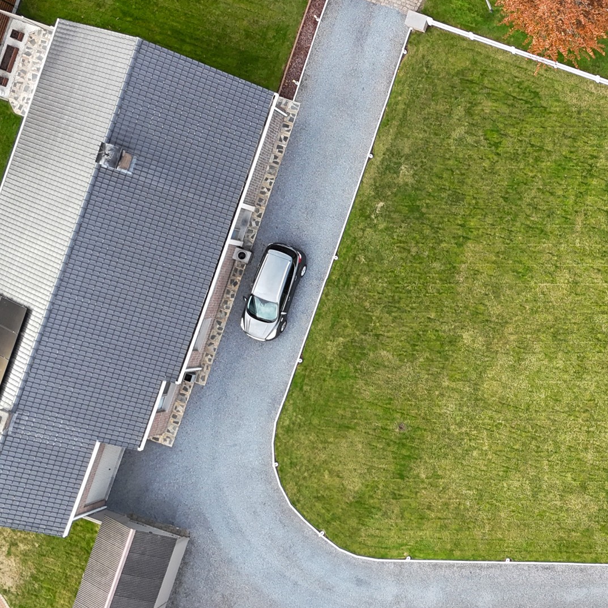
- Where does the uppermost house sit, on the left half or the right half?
left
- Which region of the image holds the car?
center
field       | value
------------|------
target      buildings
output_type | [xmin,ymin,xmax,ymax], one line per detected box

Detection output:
[73,515,188,608]
[0,17,286,541]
